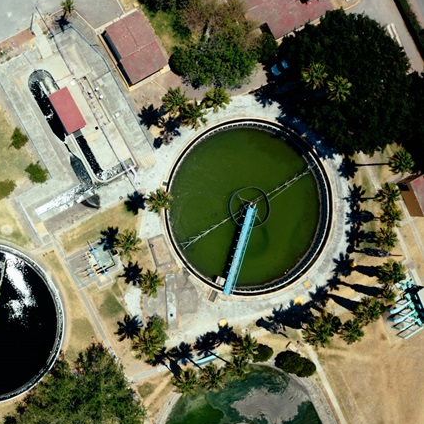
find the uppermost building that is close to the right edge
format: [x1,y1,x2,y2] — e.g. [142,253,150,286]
[394,167,424,217]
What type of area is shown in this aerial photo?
industrial area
